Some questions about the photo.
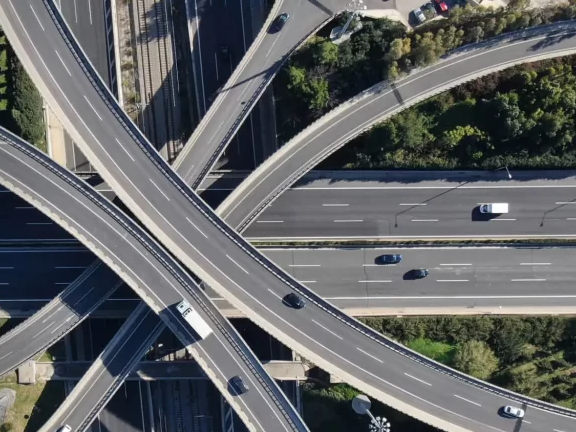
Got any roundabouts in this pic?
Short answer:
No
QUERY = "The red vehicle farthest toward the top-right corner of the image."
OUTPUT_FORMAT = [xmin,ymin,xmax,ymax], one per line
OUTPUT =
[436,0,449,14]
